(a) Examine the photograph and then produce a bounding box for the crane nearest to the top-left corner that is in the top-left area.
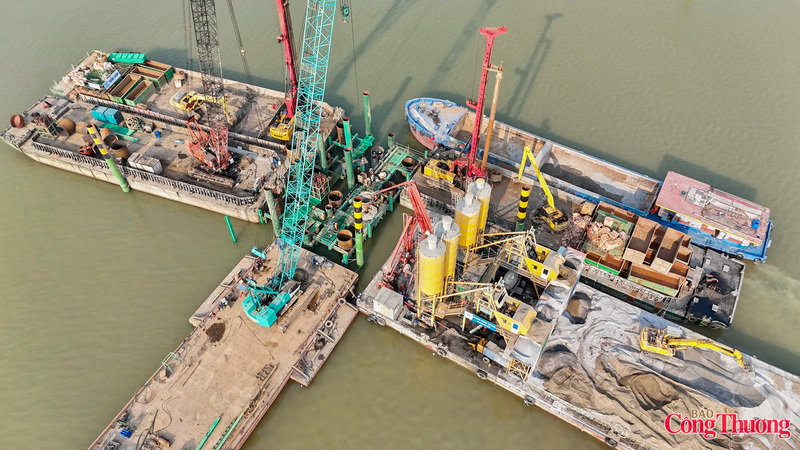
[181,0,250,190]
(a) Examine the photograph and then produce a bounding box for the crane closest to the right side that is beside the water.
[245,0,338,338]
